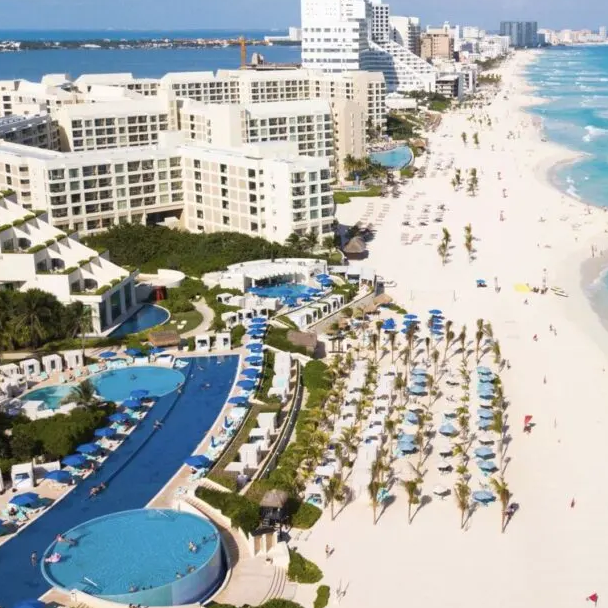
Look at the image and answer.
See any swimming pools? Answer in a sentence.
Yes, the photo shows a swimming pool.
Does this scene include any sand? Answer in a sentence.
Yes, sand can be seen from above here.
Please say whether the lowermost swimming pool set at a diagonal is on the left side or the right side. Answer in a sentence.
The lowermost swimming pool set at a diagonal sits on the left side.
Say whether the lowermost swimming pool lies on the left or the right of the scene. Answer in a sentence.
The lowermost swimming pool is on the left side of the image.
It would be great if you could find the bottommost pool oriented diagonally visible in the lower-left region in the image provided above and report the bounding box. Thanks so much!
[0,354,240,608]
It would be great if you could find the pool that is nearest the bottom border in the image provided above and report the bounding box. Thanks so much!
[39,506,236,608]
